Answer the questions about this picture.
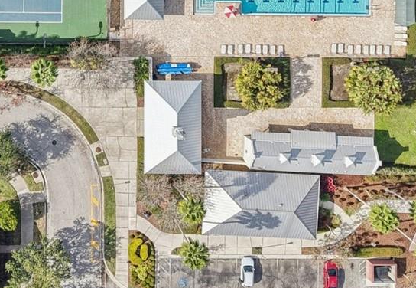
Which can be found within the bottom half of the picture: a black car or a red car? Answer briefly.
red car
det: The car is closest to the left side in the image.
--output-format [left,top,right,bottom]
[240,255,257,288]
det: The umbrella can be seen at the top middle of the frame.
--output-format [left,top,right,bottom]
[225,5,238,19]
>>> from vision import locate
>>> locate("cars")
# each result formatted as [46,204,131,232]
[240,255,257,288]
[323,259,341,288]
